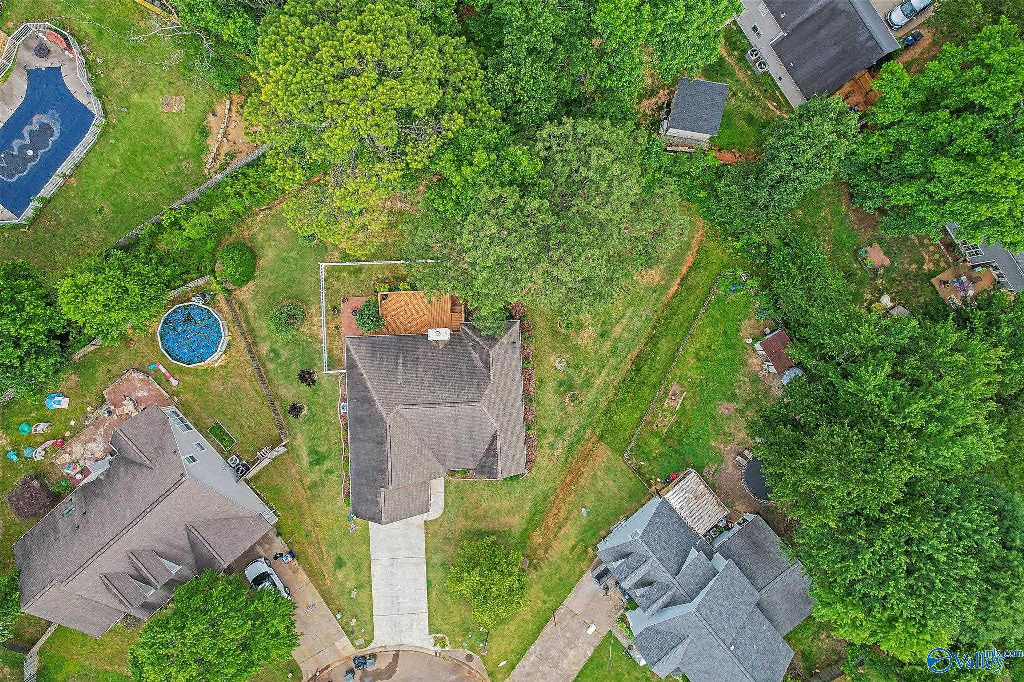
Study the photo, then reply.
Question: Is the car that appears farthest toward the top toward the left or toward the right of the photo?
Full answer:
The car that appears farthest toward the top is on the right side of the image.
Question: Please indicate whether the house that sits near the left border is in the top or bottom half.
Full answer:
Seen from above, the house that sits near the left border lies in the bottom half of the view.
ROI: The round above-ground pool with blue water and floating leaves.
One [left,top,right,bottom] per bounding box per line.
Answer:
[156,300,231,369]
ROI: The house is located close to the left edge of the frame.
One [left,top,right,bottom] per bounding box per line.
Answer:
[13,403,279,639]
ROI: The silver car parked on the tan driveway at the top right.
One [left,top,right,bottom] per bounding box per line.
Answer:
[890,0,940,26]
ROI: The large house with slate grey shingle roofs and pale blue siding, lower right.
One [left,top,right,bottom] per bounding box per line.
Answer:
[596,494,823,682]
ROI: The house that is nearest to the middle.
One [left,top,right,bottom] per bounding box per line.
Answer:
[344,319,527,525]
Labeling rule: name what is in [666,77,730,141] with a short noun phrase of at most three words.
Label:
shed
